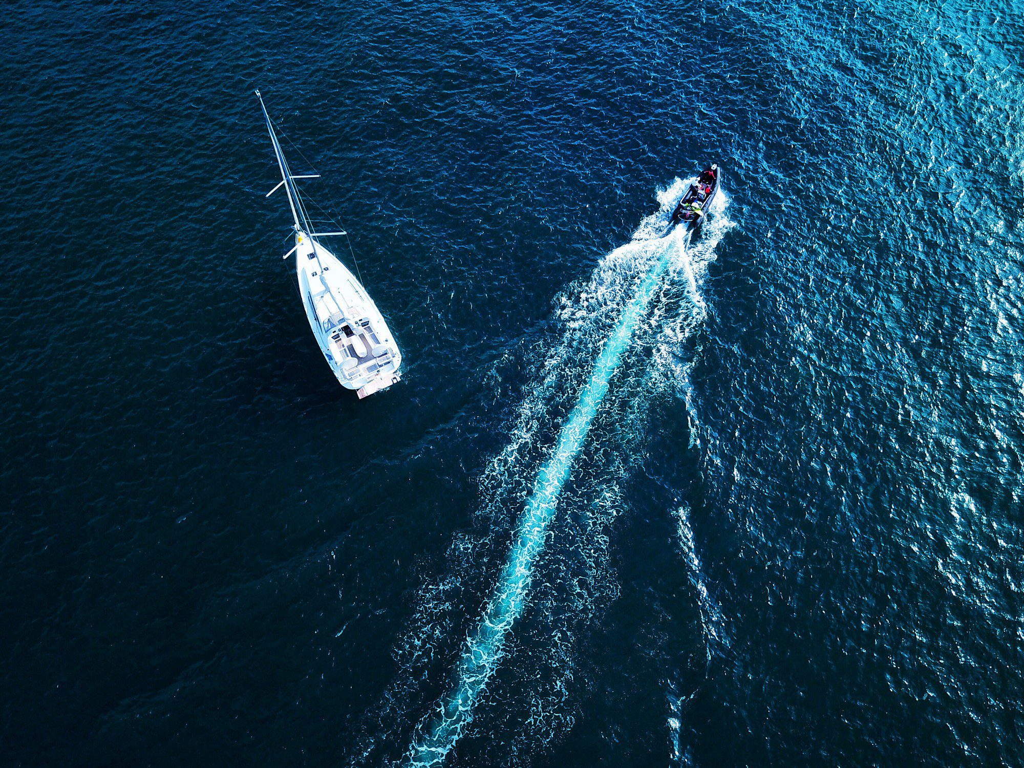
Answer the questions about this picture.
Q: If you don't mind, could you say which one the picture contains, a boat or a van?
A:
boat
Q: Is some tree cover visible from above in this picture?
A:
No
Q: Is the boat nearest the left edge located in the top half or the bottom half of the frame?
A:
top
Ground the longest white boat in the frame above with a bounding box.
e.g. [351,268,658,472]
[252,88,401,399]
